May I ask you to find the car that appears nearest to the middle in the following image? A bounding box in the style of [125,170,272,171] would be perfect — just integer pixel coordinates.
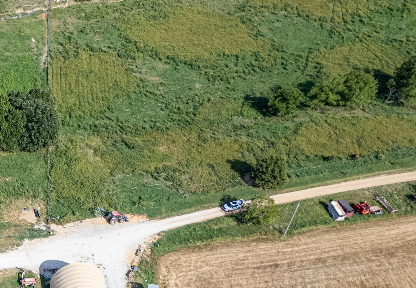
[222,192,250,209]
